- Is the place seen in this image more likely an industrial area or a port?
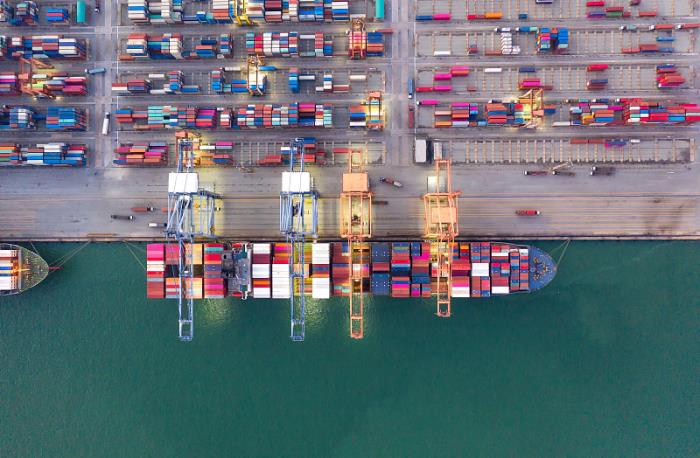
port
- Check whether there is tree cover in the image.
No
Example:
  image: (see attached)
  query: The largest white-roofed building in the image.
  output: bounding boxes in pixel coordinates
[415,139,430,163]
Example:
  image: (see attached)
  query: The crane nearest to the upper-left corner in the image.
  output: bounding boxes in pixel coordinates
[19,57,51,98]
